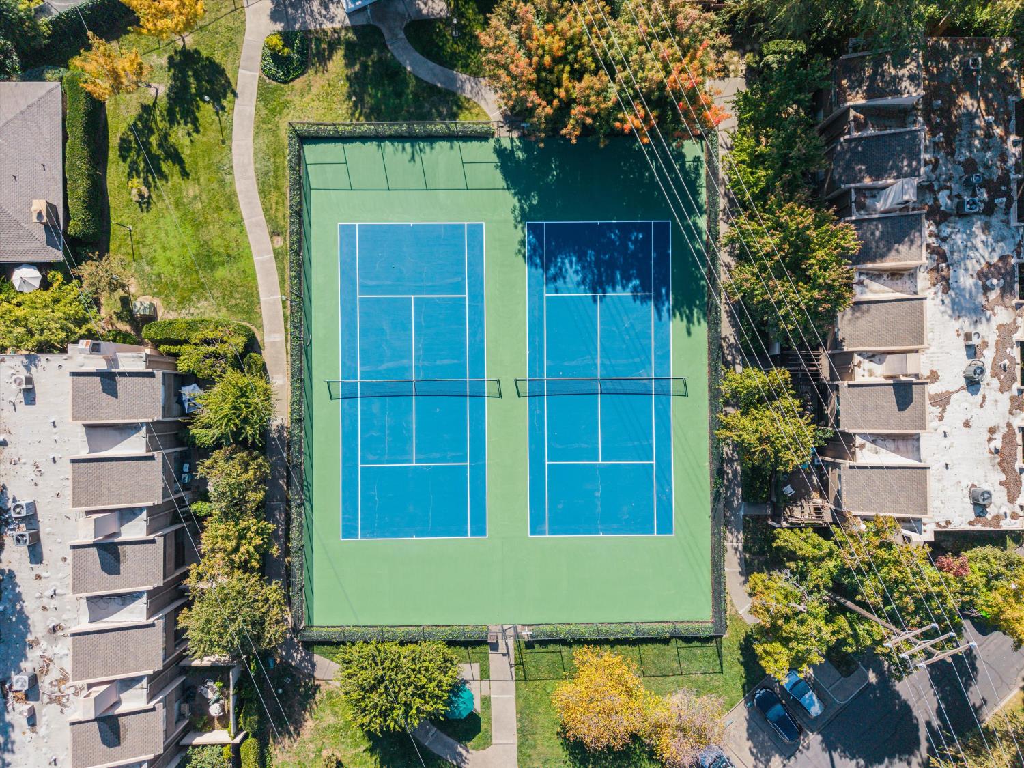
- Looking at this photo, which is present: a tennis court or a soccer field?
tennis court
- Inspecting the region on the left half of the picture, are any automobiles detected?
No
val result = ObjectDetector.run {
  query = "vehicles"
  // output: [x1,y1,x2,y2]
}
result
[780,663,827,722]
[752,682,806,751]
[696,736,735,768]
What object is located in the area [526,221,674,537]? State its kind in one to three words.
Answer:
tennis court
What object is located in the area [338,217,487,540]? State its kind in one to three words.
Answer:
tennis court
